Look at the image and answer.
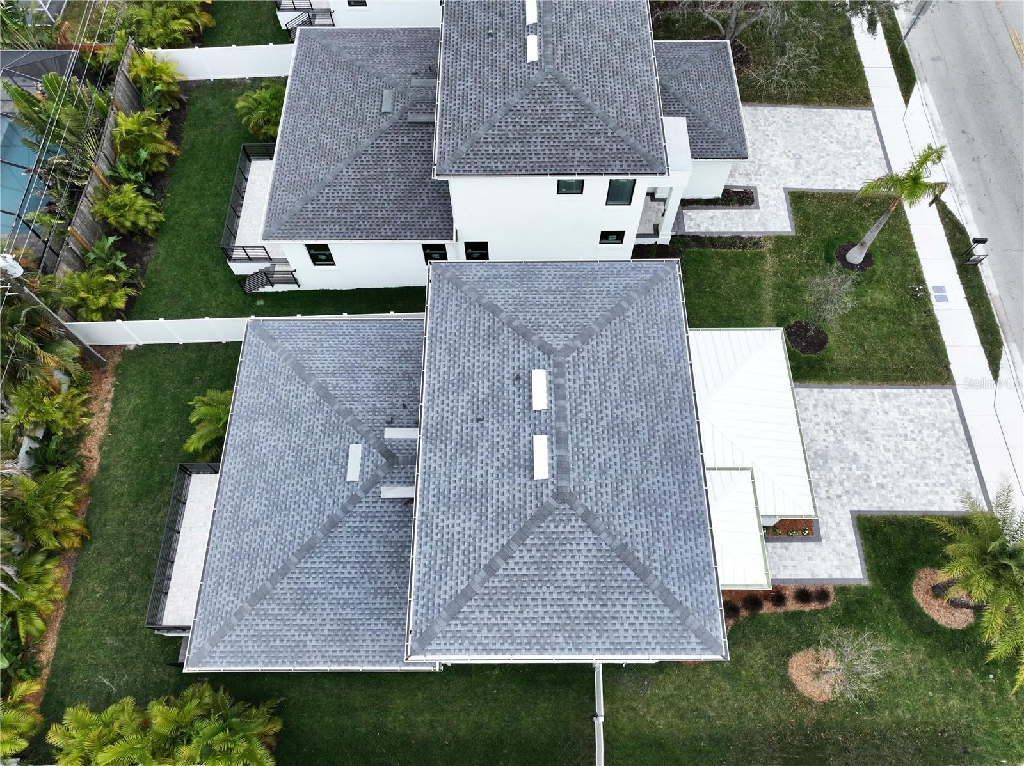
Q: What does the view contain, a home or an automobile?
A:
home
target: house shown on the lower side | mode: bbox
[146,259,819,673]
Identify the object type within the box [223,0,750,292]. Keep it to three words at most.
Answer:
house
